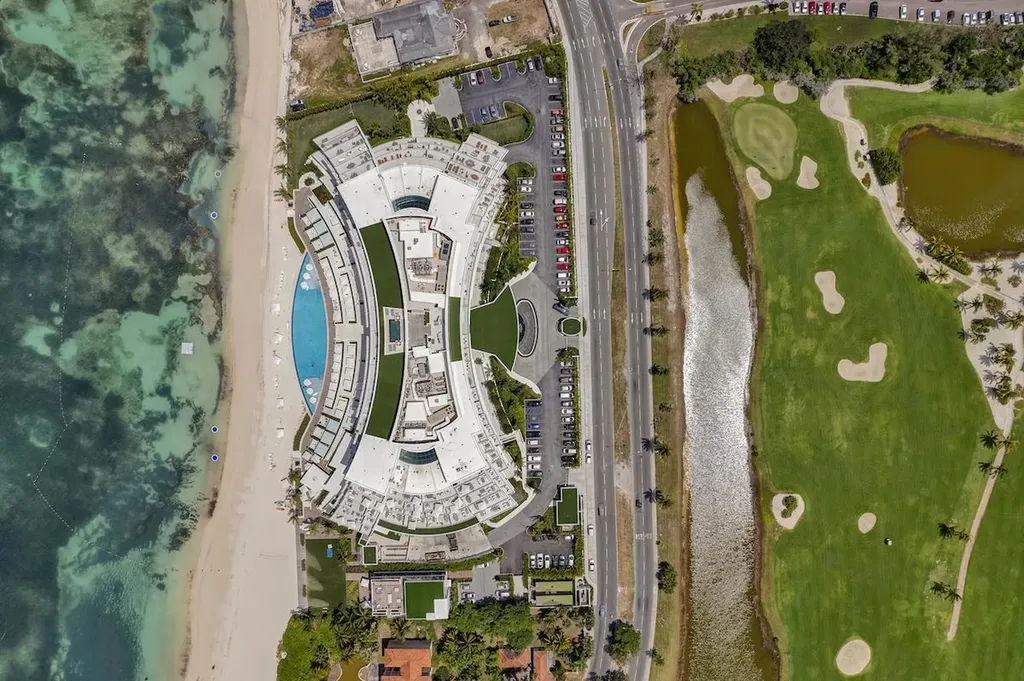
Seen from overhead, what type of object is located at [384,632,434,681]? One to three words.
house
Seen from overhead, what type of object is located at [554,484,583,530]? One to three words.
building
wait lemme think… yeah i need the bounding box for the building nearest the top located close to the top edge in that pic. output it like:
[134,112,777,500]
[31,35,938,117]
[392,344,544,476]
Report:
[348,0,467,84]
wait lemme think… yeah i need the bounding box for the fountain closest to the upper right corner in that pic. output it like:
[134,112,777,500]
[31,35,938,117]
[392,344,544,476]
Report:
[517,297,539,358]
